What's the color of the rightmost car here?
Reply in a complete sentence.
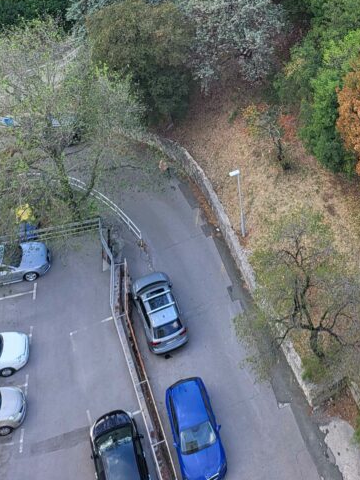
The rightmost car is blue.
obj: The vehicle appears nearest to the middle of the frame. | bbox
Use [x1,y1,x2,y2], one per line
[128,263,189,358]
